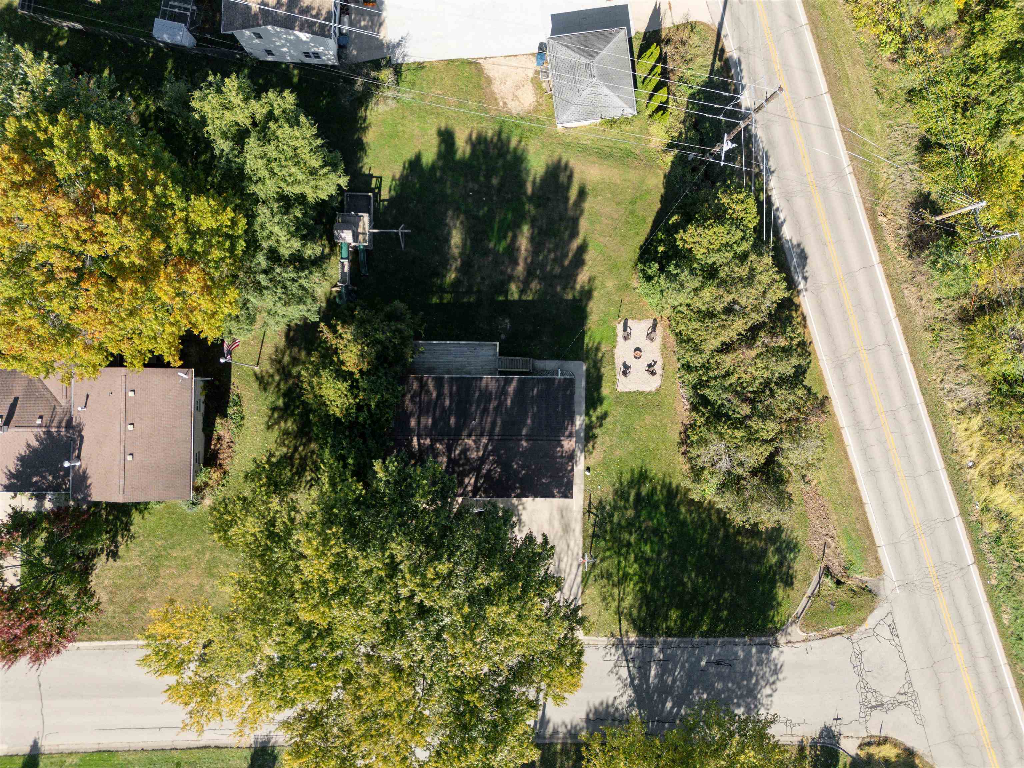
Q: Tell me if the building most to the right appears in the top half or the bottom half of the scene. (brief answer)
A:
top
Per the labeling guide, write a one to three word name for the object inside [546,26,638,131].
building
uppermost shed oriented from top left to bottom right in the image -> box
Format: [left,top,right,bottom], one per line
[153,18,200,60]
